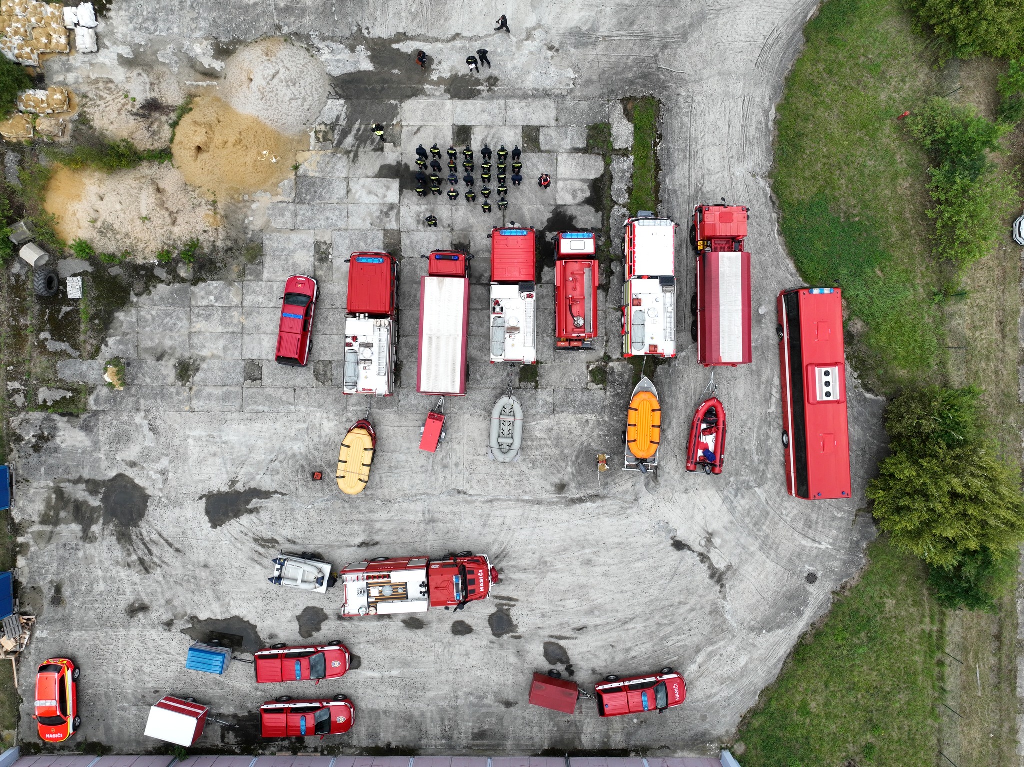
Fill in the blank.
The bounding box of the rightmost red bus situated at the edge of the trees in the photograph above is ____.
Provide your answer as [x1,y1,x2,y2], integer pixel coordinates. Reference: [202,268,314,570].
[777,281,849,498]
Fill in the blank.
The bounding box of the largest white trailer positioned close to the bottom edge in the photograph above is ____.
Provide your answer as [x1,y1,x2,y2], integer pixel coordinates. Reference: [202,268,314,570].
[144,692,234,747]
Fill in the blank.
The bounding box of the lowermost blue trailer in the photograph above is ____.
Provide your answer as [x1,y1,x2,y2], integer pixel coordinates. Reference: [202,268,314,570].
[186,638,256,674]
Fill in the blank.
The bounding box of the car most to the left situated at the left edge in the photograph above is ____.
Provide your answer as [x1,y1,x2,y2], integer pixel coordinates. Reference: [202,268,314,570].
[34,654,83,738]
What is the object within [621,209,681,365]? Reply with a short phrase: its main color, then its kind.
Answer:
white truck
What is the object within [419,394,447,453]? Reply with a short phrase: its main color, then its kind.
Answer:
red trailer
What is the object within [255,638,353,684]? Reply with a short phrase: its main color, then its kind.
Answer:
red truck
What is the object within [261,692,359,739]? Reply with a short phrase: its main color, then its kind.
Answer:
red truck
